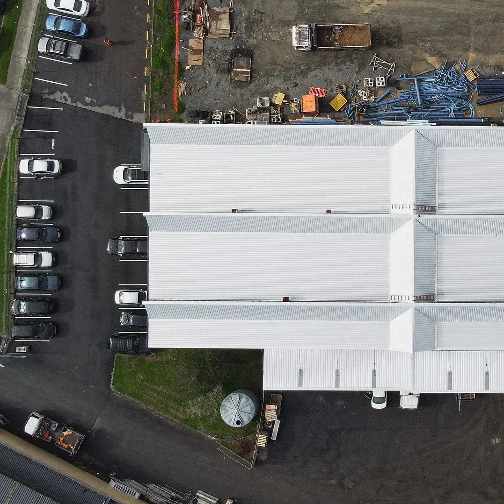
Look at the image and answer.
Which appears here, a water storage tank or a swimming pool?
water storage tank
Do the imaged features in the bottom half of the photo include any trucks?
Yes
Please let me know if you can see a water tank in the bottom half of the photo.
Yes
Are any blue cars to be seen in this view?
Yes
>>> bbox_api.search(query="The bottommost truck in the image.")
[20,411,89,456]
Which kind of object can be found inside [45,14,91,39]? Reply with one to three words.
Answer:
car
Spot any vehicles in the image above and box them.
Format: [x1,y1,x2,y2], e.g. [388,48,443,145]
[123,310,148,329]
[112,163,150,186]
[47,0,93,18]
[18,157,64,177]
[110,236,149,257]
[370,394,390,411]
[115,287,149,308]
[39,35,87,61]
[397,394,421,409]
[294,20,373,51]
[45,14,91,39]
[12,296,54,318]
[12,250,58,270]
[15,224,64,245]
[15,203,56,221]
[20,411,89,456]
[109,334,154,355]
[16,271,64,293]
